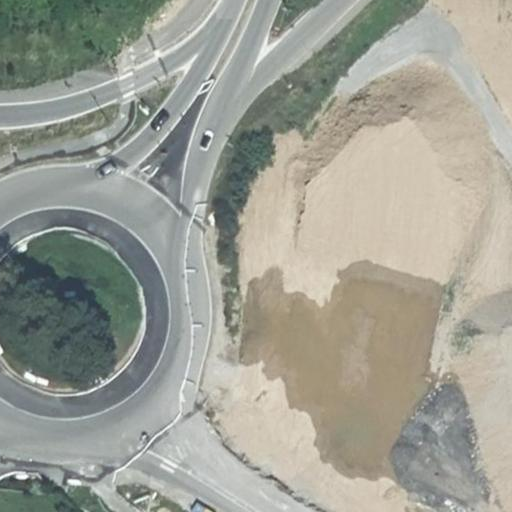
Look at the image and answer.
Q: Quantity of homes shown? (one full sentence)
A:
No homes are visible.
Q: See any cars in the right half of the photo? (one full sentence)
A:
No, there is no car in the right half of the photo.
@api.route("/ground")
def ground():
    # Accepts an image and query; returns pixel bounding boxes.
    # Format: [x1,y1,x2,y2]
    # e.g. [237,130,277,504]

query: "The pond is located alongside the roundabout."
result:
[242,260,442,480]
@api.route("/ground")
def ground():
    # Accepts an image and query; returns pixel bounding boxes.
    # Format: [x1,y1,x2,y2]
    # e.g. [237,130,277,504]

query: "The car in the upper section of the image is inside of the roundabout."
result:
[96,160,118,177]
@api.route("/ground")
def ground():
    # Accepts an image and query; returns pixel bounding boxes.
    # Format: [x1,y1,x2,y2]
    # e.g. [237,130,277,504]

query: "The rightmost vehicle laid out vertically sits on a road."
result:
[200,129,213,151]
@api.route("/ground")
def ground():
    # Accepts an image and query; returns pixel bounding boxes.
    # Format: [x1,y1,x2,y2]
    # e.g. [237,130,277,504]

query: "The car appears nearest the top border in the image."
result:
[150,108,170,130]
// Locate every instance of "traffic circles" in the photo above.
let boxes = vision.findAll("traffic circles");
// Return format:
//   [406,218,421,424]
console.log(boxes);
[0,152,192,481]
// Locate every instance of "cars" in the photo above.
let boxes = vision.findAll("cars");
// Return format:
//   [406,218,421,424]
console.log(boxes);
[96,160,118,177]
[150,108,170,130]
[200,129,213,151]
